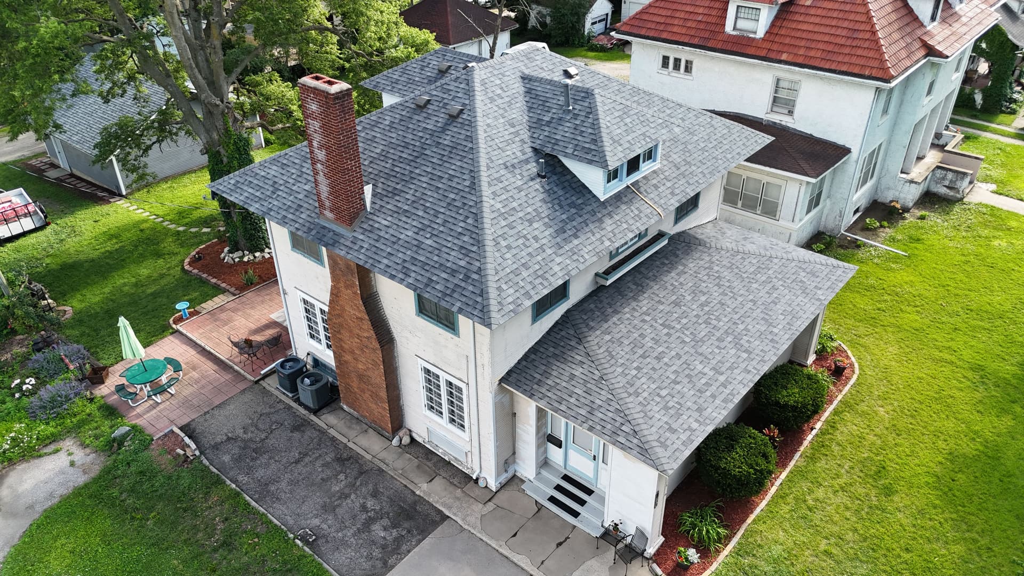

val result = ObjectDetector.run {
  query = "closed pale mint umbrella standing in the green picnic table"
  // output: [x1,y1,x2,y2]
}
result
[122,316,149,368]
